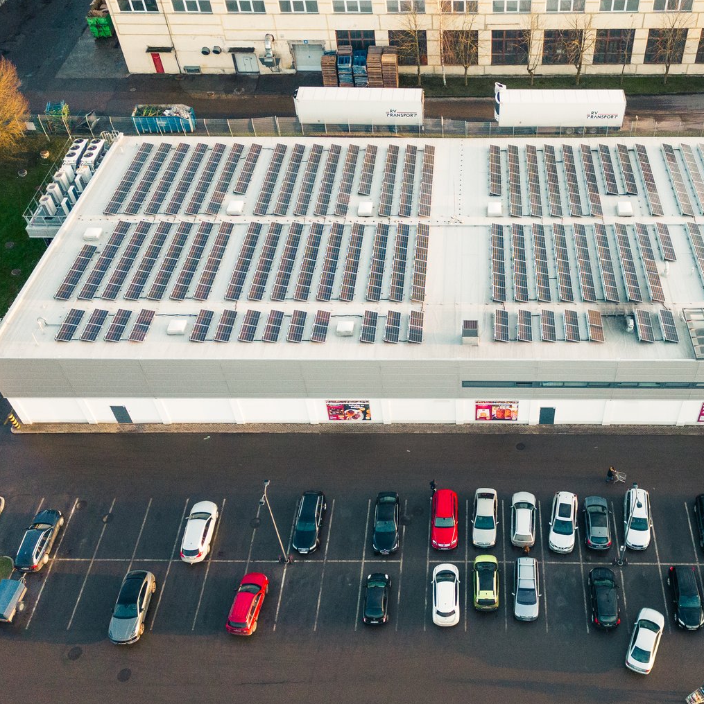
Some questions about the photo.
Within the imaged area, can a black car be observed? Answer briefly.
Yes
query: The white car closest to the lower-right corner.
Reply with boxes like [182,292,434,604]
[625,608,667,677]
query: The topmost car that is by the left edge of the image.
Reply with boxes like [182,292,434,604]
[11,511,63,571]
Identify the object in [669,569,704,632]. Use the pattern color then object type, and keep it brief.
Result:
black car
